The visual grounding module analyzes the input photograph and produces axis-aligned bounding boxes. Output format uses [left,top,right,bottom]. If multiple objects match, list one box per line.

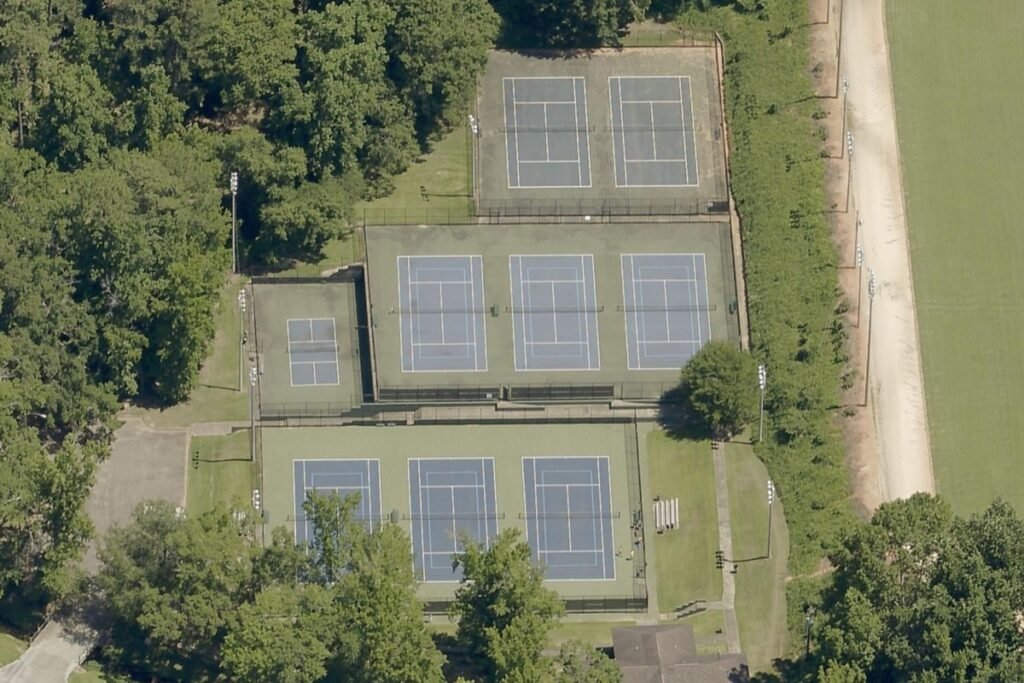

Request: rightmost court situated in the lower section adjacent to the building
[522,457,616,579]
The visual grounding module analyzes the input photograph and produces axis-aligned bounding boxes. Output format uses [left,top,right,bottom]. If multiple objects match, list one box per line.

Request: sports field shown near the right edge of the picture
[885,0,1024,599]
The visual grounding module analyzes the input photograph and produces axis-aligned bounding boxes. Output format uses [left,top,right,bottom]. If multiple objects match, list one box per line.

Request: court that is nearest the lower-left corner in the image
[294,459,381,581]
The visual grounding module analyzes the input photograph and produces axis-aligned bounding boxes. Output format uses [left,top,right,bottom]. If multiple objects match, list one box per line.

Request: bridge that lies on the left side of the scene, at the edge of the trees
[24,611,104,671]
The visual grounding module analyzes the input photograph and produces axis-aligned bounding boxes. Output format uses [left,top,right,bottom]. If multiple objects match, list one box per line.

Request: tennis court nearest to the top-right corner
[609,77,699,187]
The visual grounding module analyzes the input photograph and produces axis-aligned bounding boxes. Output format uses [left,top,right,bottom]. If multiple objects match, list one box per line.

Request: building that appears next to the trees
[613,625,746,683]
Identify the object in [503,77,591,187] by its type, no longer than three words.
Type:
tennis court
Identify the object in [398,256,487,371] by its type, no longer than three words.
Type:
tennis court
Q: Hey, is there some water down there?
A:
No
